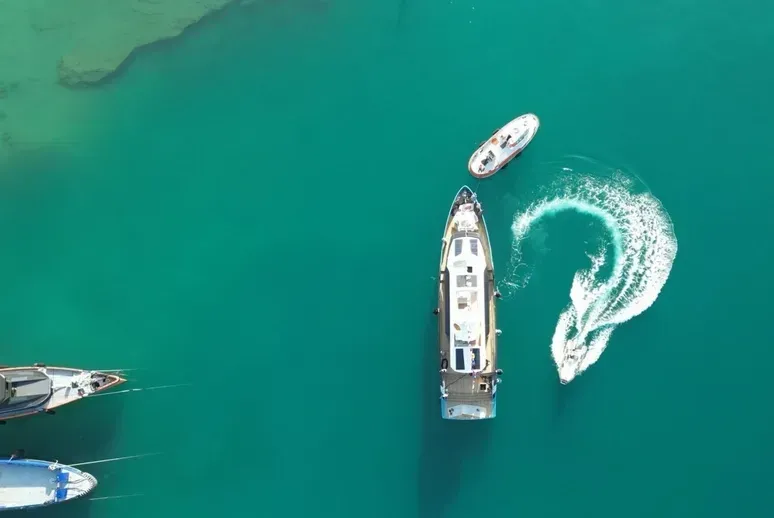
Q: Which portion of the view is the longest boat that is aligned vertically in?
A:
center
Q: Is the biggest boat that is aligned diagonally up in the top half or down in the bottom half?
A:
top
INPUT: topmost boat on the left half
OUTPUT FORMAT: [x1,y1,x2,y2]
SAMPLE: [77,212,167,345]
[0,366,128,420]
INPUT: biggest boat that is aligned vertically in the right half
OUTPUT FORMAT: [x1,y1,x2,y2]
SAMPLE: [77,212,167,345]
[438,185,497,421]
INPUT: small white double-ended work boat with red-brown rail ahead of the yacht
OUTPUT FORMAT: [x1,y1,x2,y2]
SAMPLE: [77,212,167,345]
[469,113,539,178]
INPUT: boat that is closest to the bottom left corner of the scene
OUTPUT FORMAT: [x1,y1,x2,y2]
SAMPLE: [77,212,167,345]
[0,460,96,510]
